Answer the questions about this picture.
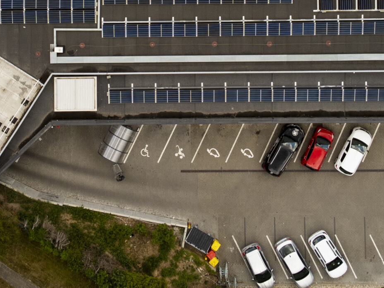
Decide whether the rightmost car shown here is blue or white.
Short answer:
white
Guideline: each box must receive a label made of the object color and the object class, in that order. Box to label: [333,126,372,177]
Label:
white car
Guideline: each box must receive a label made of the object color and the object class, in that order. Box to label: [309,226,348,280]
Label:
white car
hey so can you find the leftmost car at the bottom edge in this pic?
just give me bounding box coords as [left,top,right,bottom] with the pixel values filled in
[244,238,281,288]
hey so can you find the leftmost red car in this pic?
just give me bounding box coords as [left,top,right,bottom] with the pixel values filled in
[300,126,334,171]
